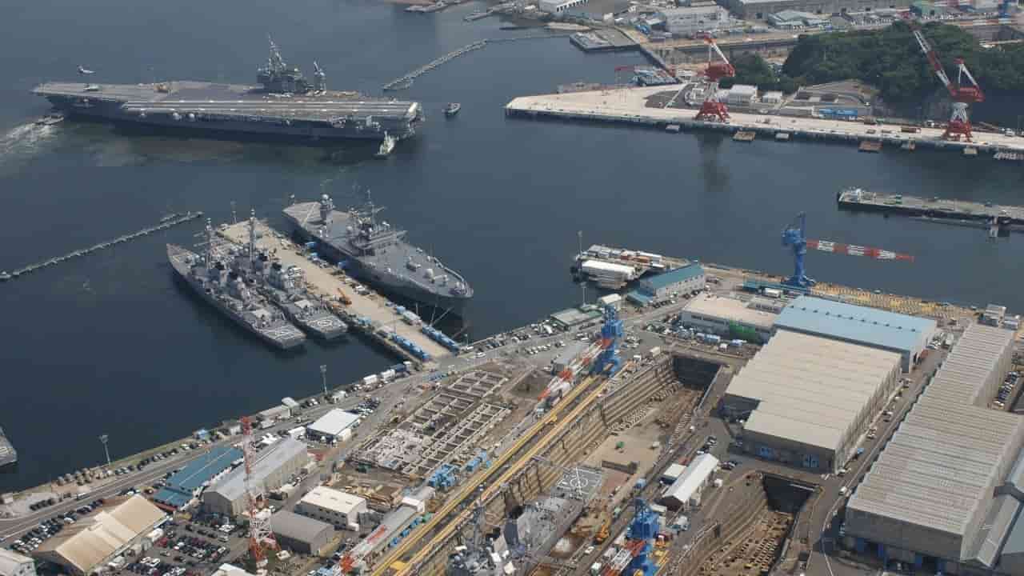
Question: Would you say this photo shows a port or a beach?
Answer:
port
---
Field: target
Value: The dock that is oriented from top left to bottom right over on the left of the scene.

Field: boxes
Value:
[217,218,462,368]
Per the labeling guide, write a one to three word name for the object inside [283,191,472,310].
ship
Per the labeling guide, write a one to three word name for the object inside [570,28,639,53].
pier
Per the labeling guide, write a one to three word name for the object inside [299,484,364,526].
building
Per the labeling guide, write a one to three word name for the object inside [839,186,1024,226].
pier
